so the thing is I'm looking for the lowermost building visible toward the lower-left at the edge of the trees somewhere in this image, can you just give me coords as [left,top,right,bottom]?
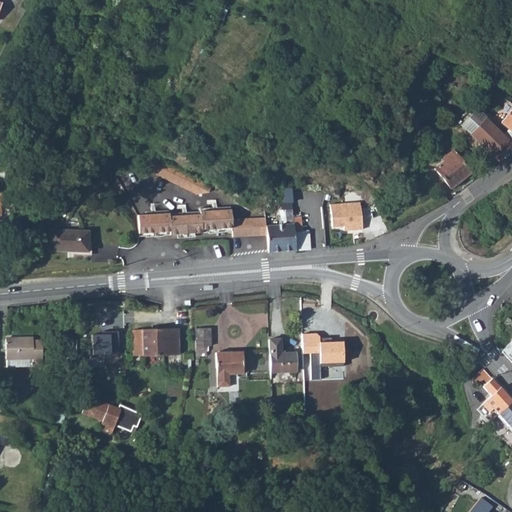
[82,404,141,434]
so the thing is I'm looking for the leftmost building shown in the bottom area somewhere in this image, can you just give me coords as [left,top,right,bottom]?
[5,336,43,369]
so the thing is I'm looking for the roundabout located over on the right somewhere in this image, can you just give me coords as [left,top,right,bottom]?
[372,243,512,341]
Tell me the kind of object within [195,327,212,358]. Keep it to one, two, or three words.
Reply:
shed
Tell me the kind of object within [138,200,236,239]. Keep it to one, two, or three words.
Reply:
building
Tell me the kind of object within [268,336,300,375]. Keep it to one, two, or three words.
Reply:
house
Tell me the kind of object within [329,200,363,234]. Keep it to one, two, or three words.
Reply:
house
